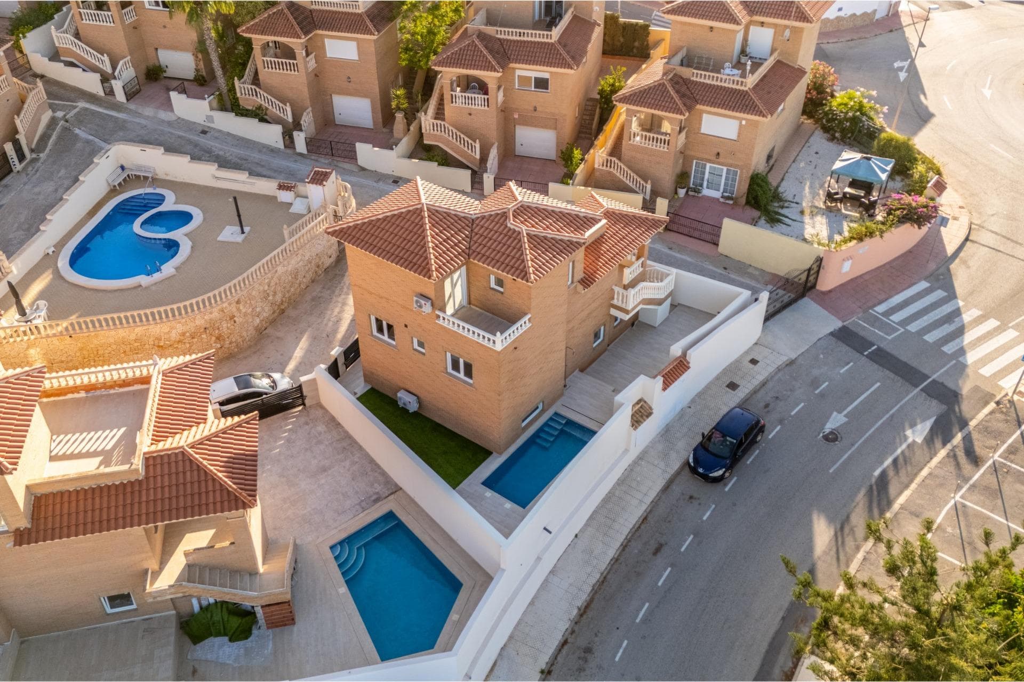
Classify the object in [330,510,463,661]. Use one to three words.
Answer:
swimming pool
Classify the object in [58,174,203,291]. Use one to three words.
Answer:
swimming pool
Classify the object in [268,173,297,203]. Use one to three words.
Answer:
building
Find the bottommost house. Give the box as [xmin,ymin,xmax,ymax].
[0,346,298,681]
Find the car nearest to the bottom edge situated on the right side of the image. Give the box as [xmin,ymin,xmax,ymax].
[689,409,764,488]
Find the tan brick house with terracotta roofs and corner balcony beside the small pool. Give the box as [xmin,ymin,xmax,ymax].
[322,173,678,455]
